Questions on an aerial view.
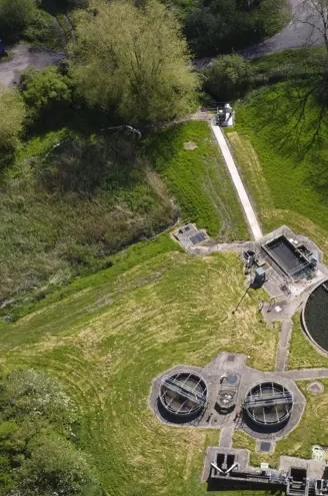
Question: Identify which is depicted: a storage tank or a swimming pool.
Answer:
storage tank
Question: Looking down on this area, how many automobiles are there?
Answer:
0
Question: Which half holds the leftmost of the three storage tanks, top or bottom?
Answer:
bottom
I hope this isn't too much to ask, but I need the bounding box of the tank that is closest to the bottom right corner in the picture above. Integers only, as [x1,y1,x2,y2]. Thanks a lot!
[243,380,294,430]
